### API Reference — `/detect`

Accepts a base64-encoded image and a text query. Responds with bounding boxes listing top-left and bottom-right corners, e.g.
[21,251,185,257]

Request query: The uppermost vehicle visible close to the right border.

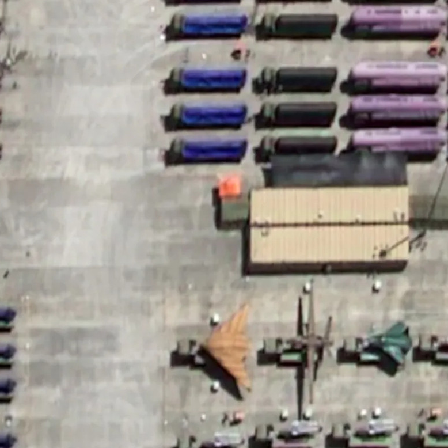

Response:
[352,5,448,31]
